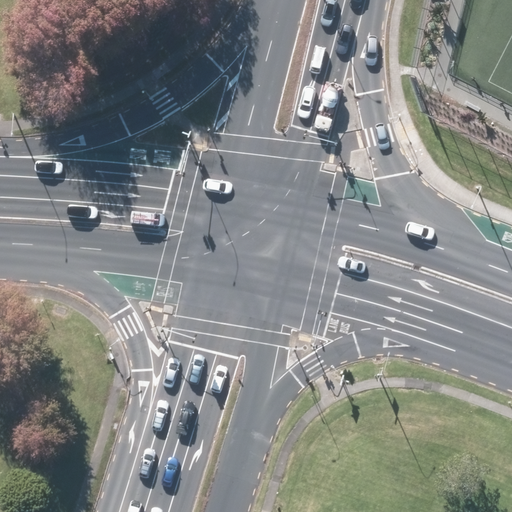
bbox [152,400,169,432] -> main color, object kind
white car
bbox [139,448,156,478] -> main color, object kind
white car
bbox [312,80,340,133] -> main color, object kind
white truck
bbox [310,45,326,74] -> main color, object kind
white vehicle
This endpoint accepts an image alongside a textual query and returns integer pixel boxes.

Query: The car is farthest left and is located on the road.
[34,161,63,176]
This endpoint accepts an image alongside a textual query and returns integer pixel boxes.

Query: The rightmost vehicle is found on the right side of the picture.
[404,222,435,240]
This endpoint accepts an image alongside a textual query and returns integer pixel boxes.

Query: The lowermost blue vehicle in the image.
[162,457,178,487]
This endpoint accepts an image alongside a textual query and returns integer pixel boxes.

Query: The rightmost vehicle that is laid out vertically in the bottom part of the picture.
[210,364,227,394]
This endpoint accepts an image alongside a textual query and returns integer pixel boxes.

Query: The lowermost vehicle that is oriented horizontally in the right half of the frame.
[336,257,366,274]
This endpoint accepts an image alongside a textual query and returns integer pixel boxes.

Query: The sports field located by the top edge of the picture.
[455,0,512,102]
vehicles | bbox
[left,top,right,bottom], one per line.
[162,457,178,487]
[139,448,156,478]
[202,179,233,195]
[152,400,169,432]
[374,123,390,150]
[66,204,98,220]
[176,400,195,436]
[336,24,354,55]
[34,161,63,176]
[130,212,165,228]
[298,86,316,118]
[188,354,204,384]
[210,364,227,394]
[364,35,379,66]
[163,357,180,388]
[336,257,366,274]
[404,222,435,240]
[149,506,162,512]
[352,0,367,10]
[321,0,338,26]
[310,45,326,74]
[312,80,340,133]
[128,500,142,512]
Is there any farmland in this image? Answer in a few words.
No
